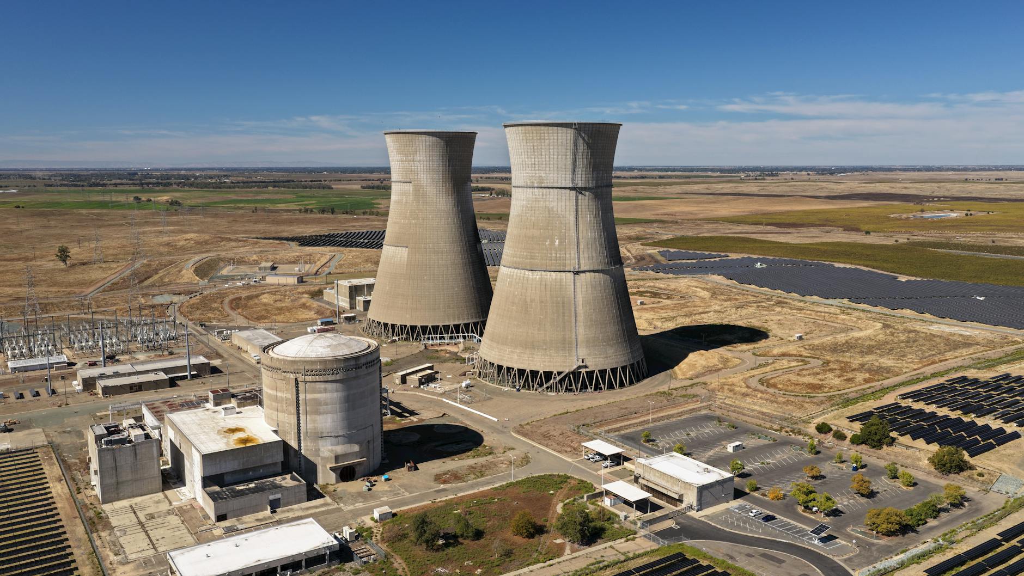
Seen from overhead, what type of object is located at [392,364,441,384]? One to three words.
building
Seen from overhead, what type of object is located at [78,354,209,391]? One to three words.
building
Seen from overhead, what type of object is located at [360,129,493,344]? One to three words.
cooling tower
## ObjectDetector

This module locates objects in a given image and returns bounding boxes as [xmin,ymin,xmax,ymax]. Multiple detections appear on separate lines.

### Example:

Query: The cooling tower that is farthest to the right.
[474,119,651,396]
